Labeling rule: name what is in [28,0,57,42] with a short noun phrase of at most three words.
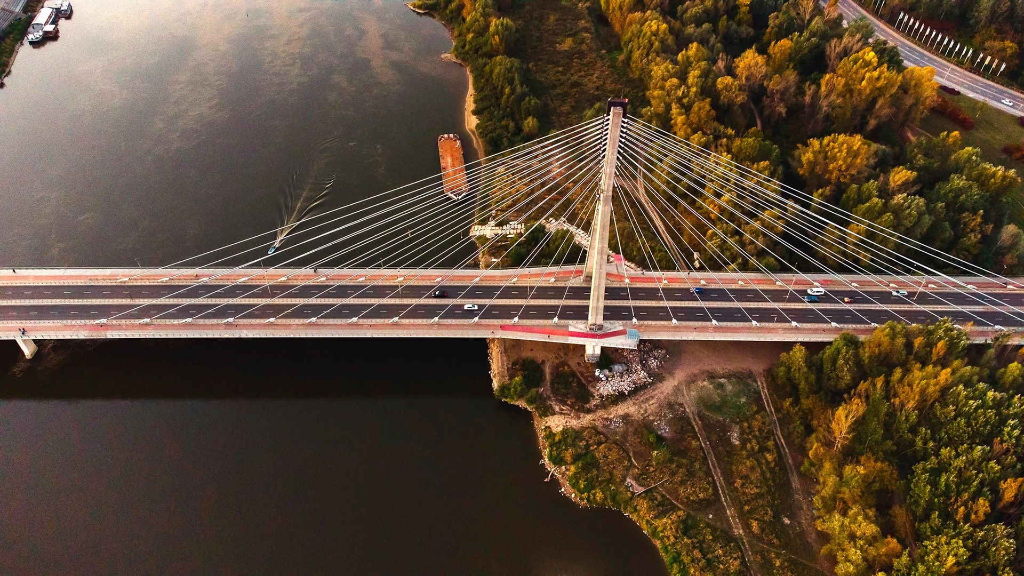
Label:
boat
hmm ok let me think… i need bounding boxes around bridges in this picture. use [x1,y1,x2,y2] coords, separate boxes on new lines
[0,93,1024,361]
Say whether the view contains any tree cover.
Yes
